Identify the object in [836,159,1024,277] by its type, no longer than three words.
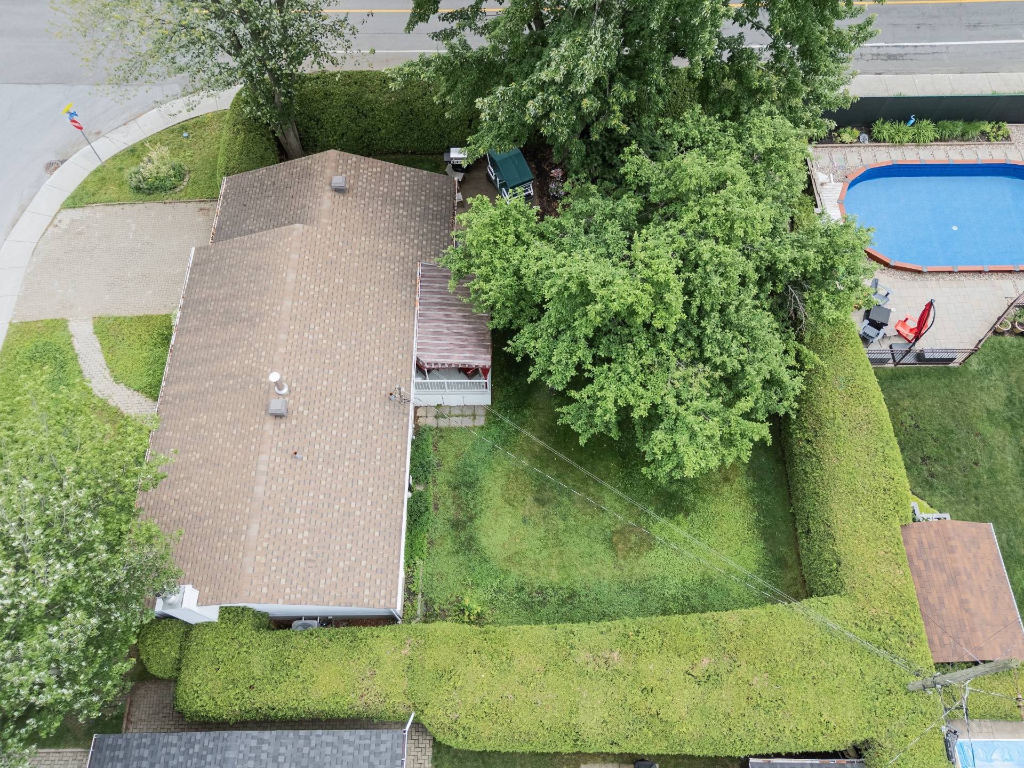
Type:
swimming pool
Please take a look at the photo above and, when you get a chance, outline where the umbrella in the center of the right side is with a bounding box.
[895,300,935,361]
